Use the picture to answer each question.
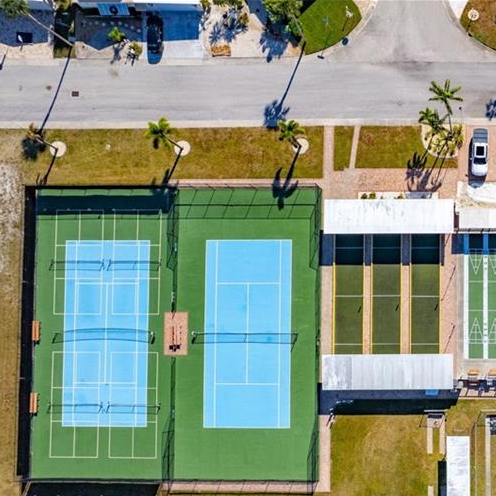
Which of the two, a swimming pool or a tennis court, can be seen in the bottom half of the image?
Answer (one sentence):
The feature located in the bottom half of the image is a tennis court.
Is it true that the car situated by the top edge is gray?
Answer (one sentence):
No, from above the car situated by the top edge looks black.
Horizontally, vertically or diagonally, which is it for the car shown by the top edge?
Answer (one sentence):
In this picture, the car shown by the top edge lies vertically.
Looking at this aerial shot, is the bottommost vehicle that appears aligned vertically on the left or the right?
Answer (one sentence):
The bottommost vehicle that appears aligned vertically is on the right side of the image.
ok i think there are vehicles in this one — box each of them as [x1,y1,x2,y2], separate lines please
[470,127,490,176]
[144,12,164,52]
